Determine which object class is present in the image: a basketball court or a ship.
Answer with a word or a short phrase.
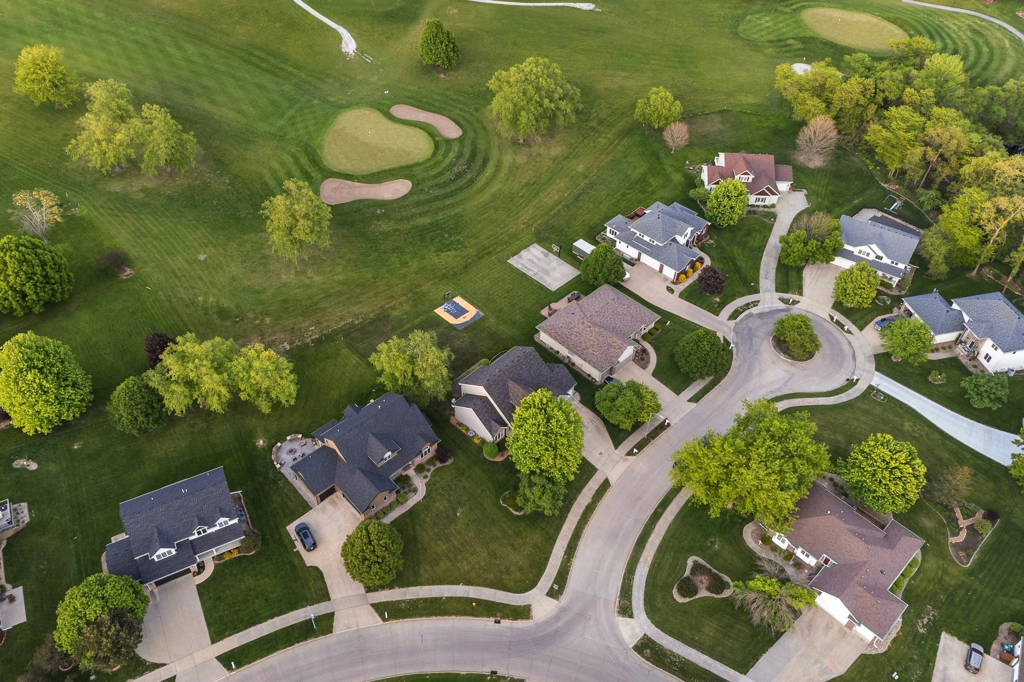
basketball court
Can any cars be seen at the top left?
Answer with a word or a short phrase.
No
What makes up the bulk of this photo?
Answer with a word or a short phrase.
grass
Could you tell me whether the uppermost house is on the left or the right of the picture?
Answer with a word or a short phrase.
right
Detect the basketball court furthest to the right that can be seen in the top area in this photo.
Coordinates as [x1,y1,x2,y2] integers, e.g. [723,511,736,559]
[508,243,580,291]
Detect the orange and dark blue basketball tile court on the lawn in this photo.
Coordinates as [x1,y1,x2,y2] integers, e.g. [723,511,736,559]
[434,296,484,330]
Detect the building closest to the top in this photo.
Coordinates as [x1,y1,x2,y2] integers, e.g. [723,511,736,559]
[704,148,794,209]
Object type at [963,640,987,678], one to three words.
car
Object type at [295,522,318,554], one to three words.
car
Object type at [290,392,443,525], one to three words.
house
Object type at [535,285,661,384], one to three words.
house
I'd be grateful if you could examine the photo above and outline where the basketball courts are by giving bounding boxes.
[434,296,484,330]
[508,243,580,291]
